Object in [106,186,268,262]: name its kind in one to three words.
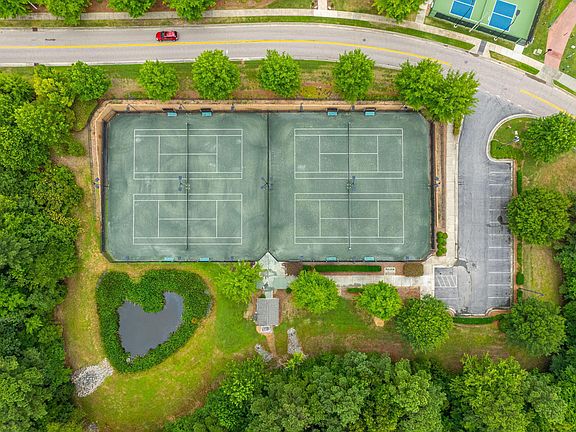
tennis court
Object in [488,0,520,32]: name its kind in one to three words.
sports court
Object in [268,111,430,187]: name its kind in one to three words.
tennis court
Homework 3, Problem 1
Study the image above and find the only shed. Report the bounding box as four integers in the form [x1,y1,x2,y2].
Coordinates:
[257,298,280,326]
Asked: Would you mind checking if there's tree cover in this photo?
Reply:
Yes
